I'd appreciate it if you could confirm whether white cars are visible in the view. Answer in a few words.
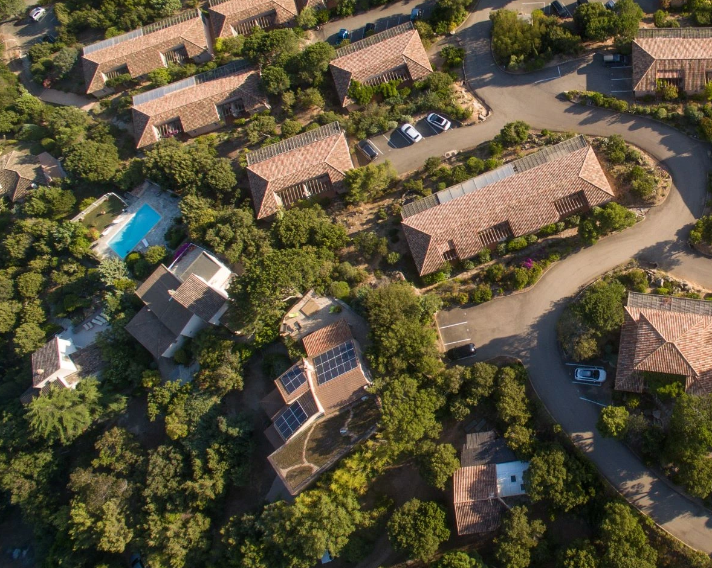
Yes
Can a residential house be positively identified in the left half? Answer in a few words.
Yes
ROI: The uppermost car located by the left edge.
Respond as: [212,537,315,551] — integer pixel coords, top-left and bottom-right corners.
[24,6,51,24]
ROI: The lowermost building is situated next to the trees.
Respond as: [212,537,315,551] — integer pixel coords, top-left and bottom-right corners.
[455,461,529,536]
